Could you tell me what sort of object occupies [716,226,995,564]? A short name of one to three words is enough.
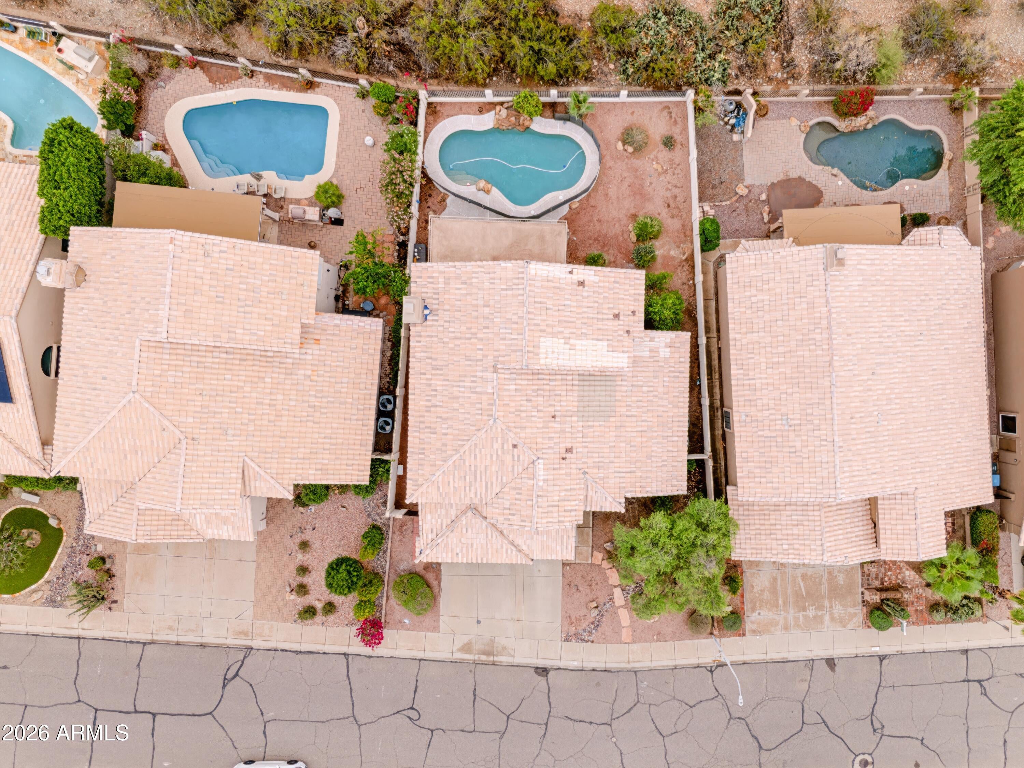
house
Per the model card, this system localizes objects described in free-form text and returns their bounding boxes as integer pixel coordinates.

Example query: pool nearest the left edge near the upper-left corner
[0,41,101,155]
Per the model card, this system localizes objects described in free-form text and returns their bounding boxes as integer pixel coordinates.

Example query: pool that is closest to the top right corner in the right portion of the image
[798,113,949,196]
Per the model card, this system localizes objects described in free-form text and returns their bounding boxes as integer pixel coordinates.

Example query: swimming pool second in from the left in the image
[164,87,340,198]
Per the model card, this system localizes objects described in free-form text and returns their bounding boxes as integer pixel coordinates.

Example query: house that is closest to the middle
[403,260,691,565]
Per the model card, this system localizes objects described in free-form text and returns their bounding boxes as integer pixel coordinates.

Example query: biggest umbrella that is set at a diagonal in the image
[57,57,87,79]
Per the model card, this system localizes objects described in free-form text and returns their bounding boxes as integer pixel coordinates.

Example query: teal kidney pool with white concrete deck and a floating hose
[424,110,599,218]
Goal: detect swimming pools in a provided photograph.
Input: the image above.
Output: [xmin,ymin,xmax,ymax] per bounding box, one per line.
[424,110,599,218]
[798,113,949,196]
[164,87,340,198]
[0,41,101,155]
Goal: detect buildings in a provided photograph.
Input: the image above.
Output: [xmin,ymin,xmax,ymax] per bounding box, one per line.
[32,226,386,544]
[403,260,691,565]
[716,226,995,564]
